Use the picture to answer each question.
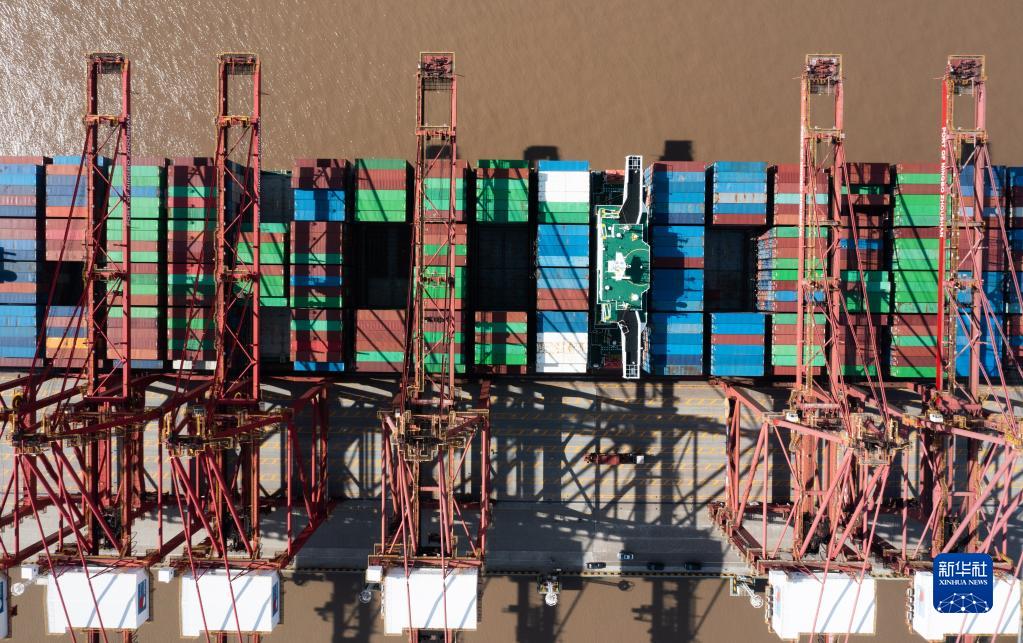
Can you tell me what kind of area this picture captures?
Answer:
port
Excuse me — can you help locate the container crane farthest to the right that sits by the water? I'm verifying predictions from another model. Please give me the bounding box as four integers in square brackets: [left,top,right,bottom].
[809,55,1023,643]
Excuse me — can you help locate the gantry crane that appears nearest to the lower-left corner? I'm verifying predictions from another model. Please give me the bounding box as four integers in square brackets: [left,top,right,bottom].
[0,371,131,623]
